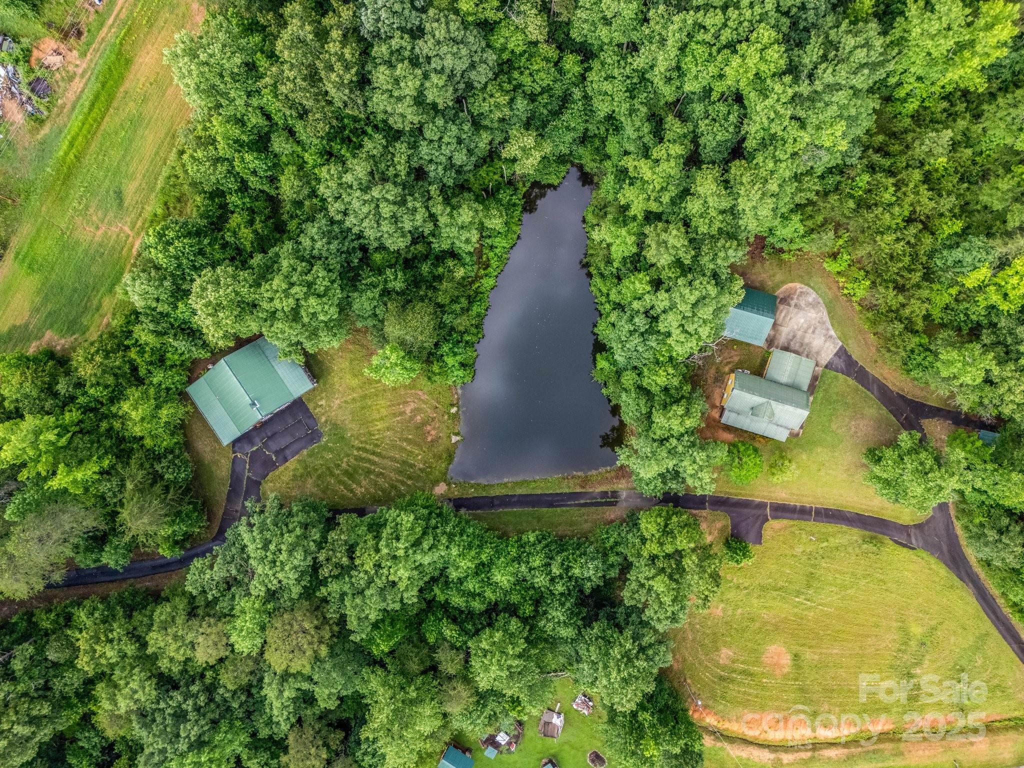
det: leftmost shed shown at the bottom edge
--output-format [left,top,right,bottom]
[436,732,477,768]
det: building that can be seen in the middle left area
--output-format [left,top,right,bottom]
[187,331,326,446]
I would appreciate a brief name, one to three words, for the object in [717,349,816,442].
house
